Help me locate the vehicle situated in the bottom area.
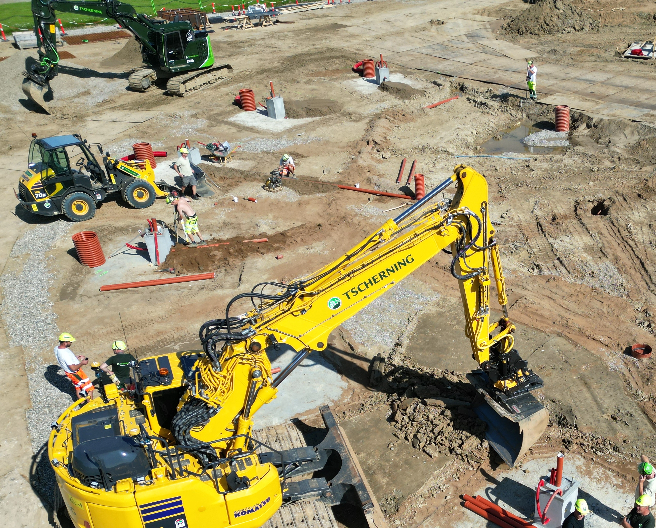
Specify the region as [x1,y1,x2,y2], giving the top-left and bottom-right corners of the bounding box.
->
[43,161,554,528]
